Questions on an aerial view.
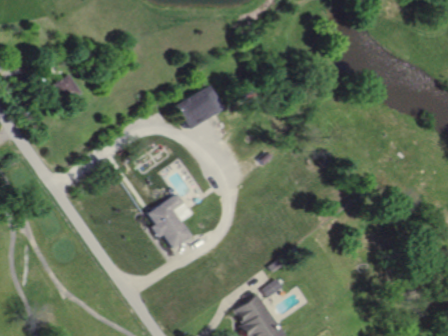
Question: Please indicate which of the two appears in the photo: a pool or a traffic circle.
pool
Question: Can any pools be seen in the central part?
Yes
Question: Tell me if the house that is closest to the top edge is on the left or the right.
left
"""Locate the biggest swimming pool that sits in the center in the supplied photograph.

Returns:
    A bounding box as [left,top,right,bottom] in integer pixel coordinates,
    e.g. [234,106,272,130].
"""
[158,160,200,206]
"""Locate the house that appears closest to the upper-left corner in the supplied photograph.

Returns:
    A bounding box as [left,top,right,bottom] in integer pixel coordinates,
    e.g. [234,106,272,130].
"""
[53,74,83,105]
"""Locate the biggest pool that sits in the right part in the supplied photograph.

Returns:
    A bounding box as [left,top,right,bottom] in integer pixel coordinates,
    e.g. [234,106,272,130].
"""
[262,287,307,323]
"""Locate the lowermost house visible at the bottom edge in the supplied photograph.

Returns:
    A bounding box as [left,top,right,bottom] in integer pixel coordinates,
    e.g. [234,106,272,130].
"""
[232,295,285,336]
